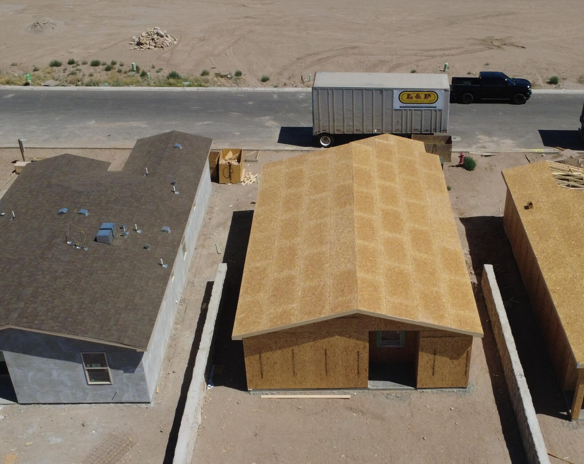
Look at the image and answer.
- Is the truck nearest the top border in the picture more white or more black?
black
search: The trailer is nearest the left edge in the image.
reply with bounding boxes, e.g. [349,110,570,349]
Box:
[312,74,451,145]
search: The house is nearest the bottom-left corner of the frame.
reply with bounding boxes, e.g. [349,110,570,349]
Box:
[0,131,213,410]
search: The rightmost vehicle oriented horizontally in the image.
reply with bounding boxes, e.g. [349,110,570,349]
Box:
[451,71,537,105]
